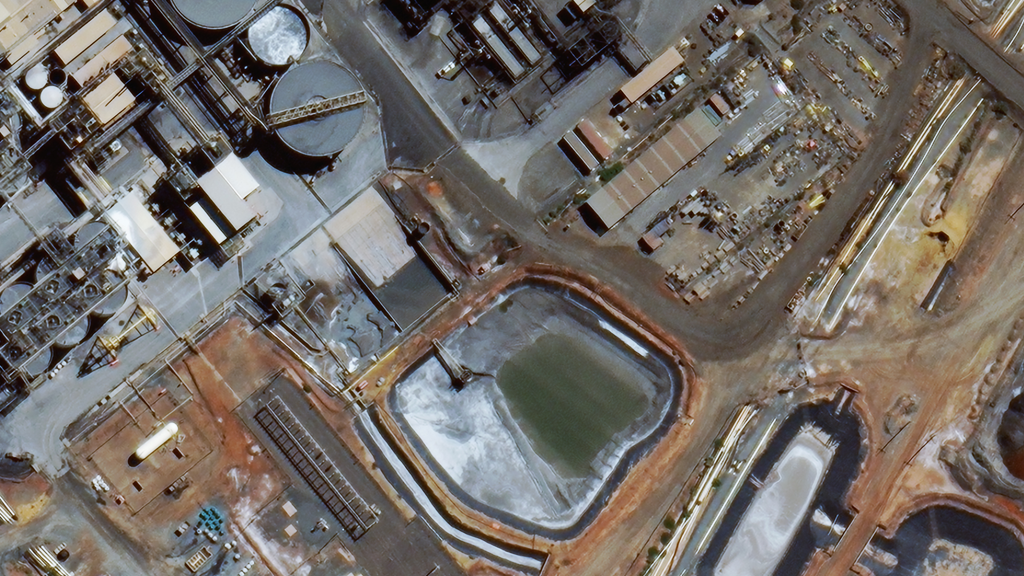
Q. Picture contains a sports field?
No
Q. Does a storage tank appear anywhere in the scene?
Yes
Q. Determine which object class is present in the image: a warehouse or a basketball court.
warehouse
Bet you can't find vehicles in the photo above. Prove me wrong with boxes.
[357,380,369,390]
[680,35,694,48]
[377,376,383,386]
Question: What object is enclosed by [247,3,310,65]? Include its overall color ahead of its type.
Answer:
white storage tank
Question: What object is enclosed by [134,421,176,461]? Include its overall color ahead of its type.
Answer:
white storage tank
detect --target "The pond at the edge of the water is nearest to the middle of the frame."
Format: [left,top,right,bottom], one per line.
[387,275,686,542]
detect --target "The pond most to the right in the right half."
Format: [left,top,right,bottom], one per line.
[997,380,1024,488]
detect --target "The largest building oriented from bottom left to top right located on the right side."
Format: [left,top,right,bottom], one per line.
[586,106,723,229]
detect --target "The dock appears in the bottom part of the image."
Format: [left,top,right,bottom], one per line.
[433,343,474,385]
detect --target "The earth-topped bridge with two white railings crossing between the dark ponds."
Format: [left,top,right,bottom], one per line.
[822,506,887,572]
